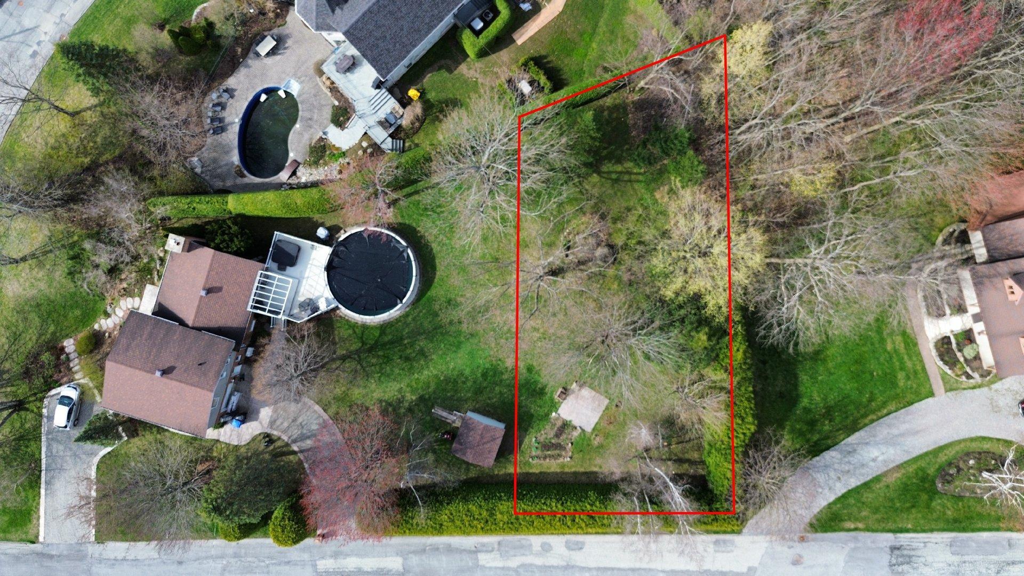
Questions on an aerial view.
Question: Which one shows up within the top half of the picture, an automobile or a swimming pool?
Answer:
swimming pool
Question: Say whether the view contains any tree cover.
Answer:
Yes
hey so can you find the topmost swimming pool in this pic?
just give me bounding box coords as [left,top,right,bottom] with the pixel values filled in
[235,75,304,180]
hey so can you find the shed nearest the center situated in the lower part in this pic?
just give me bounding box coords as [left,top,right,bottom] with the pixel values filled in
[452,412,505,468]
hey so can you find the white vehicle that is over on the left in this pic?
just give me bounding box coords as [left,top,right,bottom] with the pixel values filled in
[48,385,81,431]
